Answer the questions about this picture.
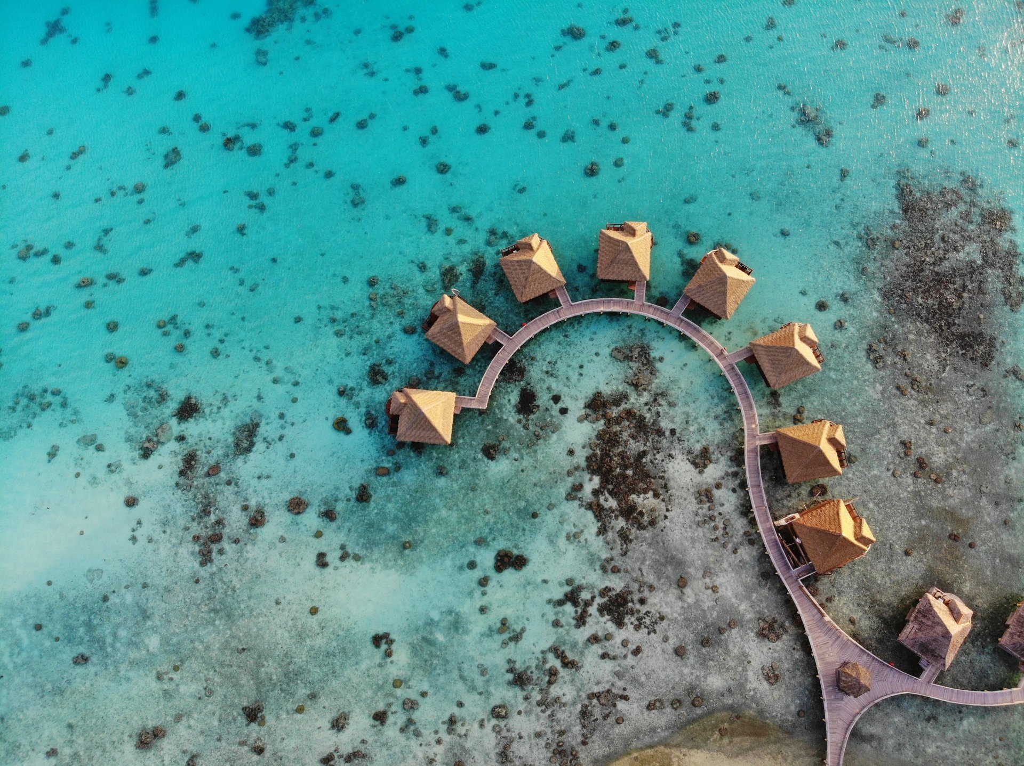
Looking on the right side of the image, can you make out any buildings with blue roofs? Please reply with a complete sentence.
No, I see no building with a blue roof on the right side of the image.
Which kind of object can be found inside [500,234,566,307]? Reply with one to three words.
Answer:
house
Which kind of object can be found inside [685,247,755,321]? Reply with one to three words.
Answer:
house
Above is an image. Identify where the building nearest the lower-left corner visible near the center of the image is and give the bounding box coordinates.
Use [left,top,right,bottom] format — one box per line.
[389,386,465,444]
